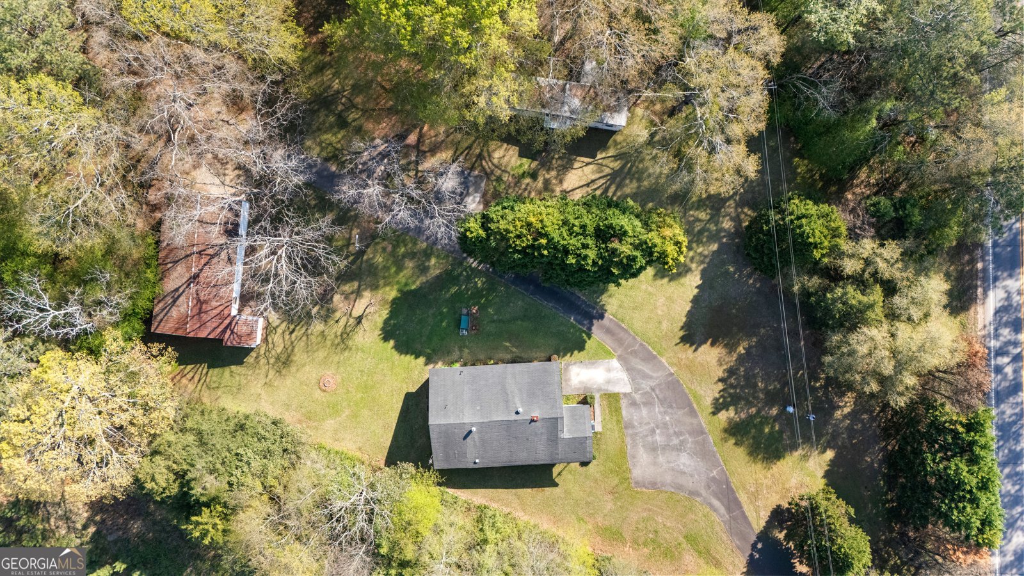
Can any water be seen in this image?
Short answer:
No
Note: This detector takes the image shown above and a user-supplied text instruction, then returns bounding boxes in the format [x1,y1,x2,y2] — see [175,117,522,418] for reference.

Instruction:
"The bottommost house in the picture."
[428,360,595,472]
